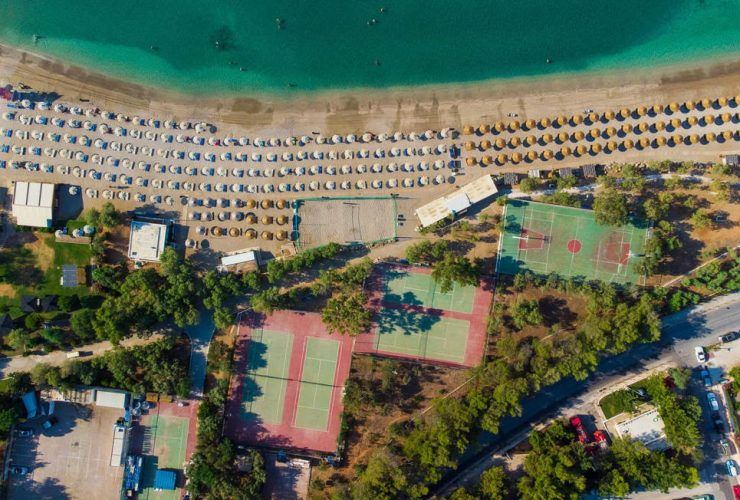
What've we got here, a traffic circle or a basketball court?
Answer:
basketball court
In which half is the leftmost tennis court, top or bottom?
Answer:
bottom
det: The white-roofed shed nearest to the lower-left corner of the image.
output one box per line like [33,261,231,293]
[95,389,130,408]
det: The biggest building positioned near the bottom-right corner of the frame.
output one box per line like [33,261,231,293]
[611,406,666,447]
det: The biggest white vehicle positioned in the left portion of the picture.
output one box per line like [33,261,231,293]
[110,416,126,467]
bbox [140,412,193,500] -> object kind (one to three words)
tennis court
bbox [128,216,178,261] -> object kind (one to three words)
building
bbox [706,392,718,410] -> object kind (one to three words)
vehicle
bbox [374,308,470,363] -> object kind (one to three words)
tennis court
